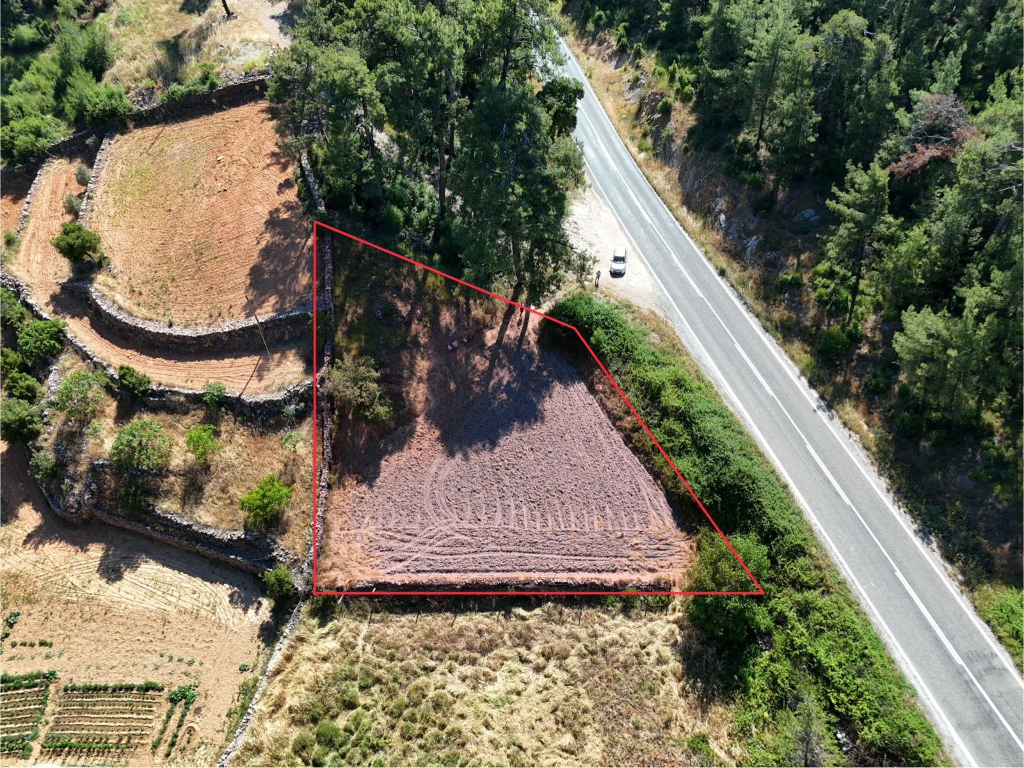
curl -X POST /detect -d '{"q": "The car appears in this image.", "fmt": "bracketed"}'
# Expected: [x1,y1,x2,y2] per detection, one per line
[610,245,628,272]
